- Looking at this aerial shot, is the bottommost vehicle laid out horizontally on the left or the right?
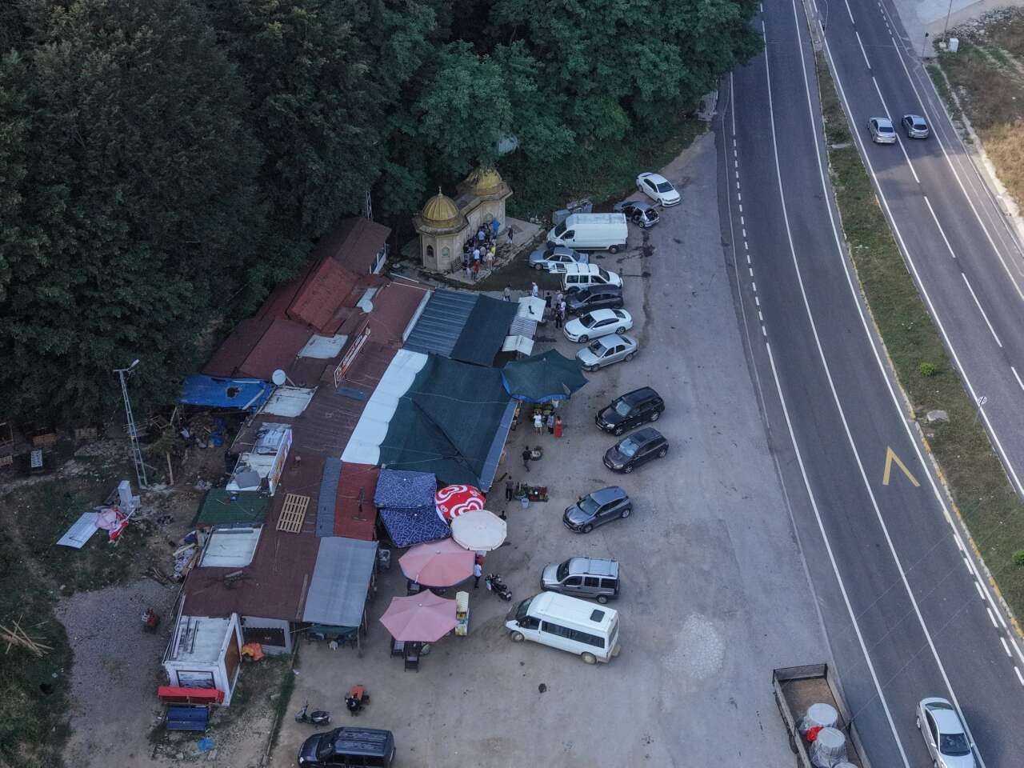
left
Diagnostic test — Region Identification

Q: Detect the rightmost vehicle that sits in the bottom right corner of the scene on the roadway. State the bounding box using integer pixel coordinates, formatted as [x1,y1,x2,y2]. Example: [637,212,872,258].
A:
[911,688,984,768]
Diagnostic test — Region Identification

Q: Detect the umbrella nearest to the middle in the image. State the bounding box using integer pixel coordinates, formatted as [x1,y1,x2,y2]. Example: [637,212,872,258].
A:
[501,349,588,404]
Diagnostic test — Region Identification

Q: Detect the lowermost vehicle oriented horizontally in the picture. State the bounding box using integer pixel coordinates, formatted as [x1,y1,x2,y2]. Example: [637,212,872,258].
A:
[298,724,397,768]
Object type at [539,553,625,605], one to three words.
vehicle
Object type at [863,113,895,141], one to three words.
car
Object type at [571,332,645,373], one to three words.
car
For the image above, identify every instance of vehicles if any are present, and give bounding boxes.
[863,113,895,141]
[592,384,669,437]
[291,695,332,724]
[773,663,866,768]
[564,277,630,317]
[545,258,621,293]
[911,688,984,768]
[560,482,638,534]
[525,242,591,271]
[601,422,674,475]
[562,306,635,344]
[899,110,929,135]
[502,588,624,665]
[544,208,628,253]
[607,195,669,229]
[485,568,510,601]
[571,332,645,373]
[539,553,625,605]
[298,724,397,768]
[633,171,683,206]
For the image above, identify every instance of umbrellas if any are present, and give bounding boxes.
[379,506,449,549]
[399,533,476,591]
[436,489,487,525]
[501,349,588,404]
[376,585,461,646]
[448,508,508,567]
[376,470,437,508]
